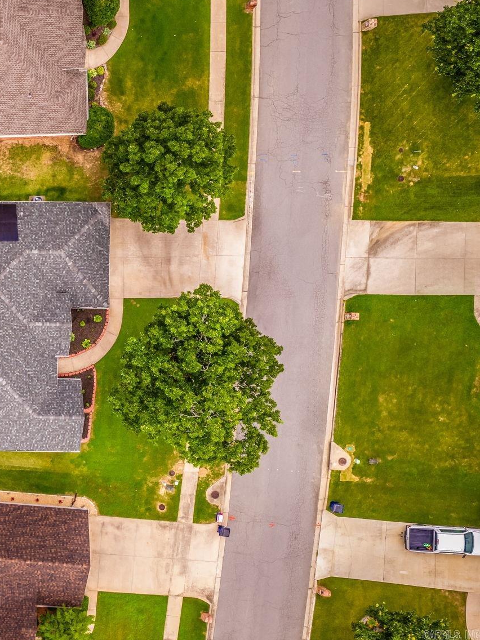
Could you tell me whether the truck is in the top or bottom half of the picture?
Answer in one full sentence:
Seen from above, the truck lies in the bottom half of the view.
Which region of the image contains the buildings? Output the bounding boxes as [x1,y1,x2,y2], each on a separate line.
[0,497,90,640]
[0,0,91,142]
[0,201,110,452]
